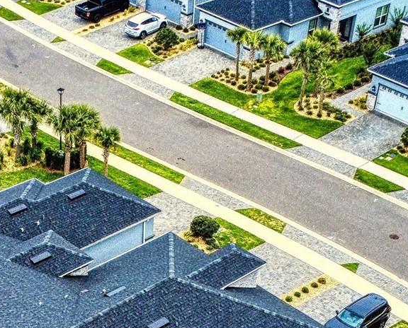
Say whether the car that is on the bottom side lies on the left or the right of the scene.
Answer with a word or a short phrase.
right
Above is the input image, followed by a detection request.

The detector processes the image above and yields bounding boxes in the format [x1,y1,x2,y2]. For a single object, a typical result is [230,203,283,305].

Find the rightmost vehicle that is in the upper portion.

[124,10,168,36]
